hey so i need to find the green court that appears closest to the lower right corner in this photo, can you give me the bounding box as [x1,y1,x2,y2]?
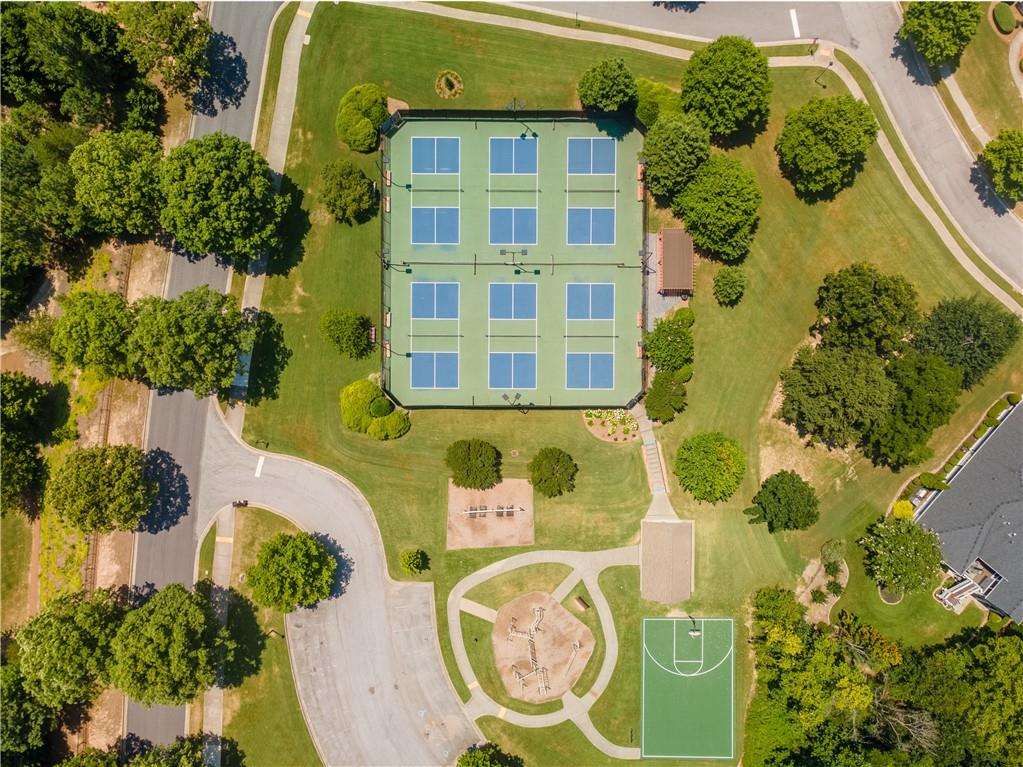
[640,616,734,760]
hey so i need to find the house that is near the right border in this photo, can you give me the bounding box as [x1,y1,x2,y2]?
[911,387,1023,622]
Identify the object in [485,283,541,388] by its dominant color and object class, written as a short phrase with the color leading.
blue sports court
